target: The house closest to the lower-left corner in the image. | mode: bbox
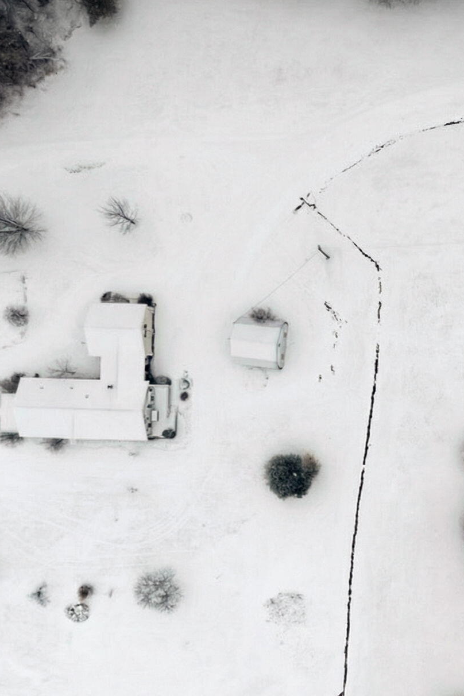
[0,303,179,440]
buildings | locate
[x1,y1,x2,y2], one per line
[229,317,286,370]
[0,303,179,440]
